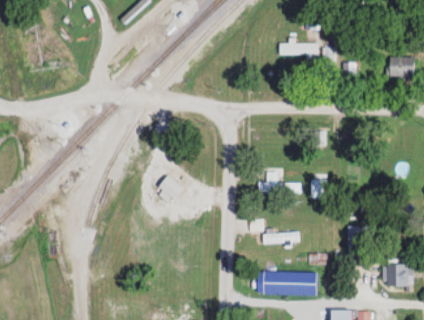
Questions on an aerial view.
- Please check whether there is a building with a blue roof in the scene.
Yes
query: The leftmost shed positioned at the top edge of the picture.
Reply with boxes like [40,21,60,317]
[119,0,152,28]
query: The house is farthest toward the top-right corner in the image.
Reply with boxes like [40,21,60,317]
[388,58,415,78]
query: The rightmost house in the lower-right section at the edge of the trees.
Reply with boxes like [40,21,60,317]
[380,258,414,289]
